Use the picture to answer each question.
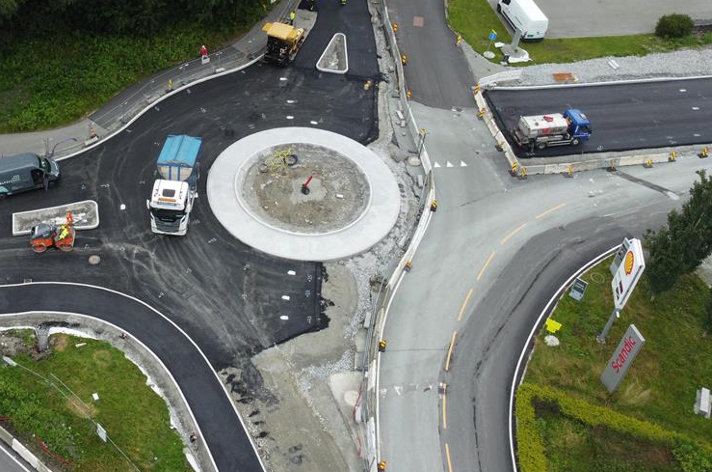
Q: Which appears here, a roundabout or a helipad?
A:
roundabout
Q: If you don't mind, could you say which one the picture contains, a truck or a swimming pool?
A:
truck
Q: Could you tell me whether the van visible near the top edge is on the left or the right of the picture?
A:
right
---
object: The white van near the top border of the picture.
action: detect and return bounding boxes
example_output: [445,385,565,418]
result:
[498,0,546,42]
